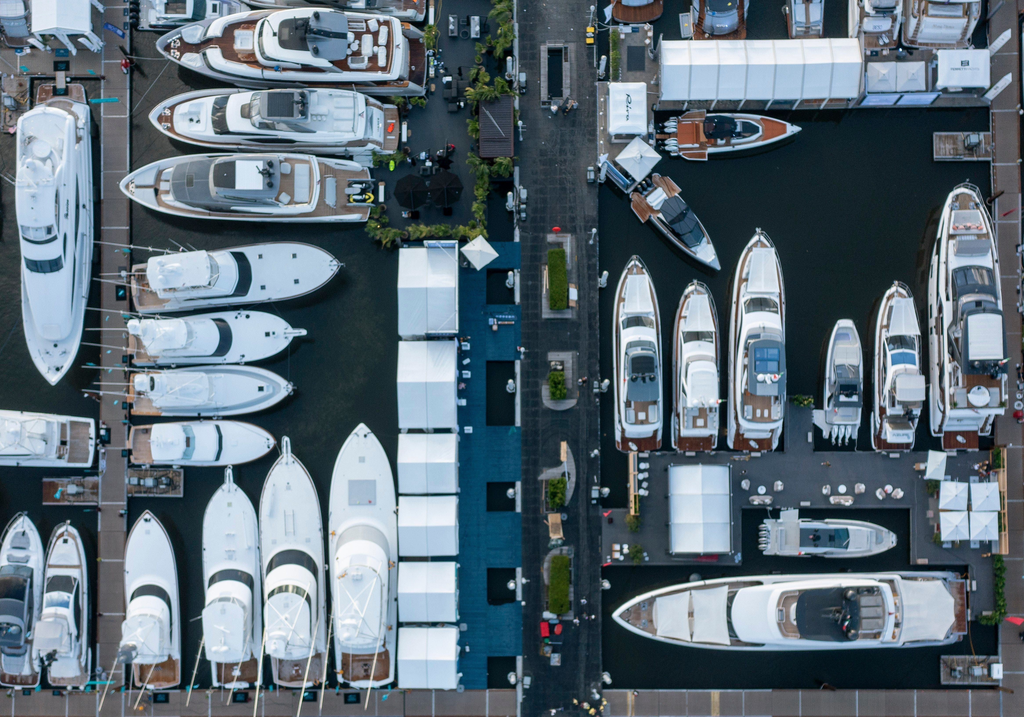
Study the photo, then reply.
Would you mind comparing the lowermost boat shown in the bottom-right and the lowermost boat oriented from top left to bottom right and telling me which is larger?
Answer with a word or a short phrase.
the lowermost boat shown in the bottom-right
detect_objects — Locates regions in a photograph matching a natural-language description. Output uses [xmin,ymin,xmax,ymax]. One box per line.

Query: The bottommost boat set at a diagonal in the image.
[630,174,721,271]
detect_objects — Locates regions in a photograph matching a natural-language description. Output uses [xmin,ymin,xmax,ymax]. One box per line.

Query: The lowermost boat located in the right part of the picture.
[613,572,968,650]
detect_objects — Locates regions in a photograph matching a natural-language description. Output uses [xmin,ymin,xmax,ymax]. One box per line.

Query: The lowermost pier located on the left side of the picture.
[0,689,519,716]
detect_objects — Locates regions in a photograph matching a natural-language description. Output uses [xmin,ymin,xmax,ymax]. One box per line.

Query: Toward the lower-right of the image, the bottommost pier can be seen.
[603,689,999,716]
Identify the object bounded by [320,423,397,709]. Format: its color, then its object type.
white boat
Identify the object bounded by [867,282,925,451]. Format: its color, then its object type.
white boat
